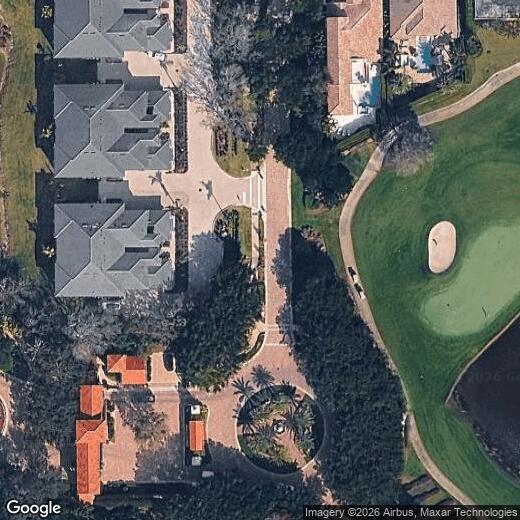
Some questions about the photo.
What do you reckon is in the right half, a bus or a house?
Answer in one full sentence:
You can see a house in the right half.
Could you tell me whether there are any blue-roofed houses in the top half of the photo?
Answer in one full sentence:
No, no blue-roofed house is visible in the top half of the photo.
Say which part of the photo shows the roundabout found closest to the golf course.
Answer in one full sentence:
You can find the roundabout found closest to the golf course in the bottom area of the picture.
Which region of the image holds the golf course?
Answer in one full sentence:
The golf course sits in the right section of the image.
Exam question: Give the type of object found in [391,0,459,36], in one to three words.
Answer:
house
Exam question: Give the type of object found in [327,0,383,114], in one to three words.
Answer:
house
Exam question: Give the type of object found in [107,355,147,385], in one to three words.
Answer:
building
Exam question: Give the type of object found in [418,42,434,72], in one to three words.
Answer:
swimming pool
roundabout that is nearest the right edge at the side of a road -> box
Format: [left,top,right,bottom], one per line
[222,373,335,488]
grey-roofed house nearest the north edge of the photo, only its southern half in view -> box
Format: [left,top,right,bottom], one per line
[53,0,172,57]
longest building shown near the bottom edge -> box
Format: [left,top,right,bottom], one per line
[75,420,107,505]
